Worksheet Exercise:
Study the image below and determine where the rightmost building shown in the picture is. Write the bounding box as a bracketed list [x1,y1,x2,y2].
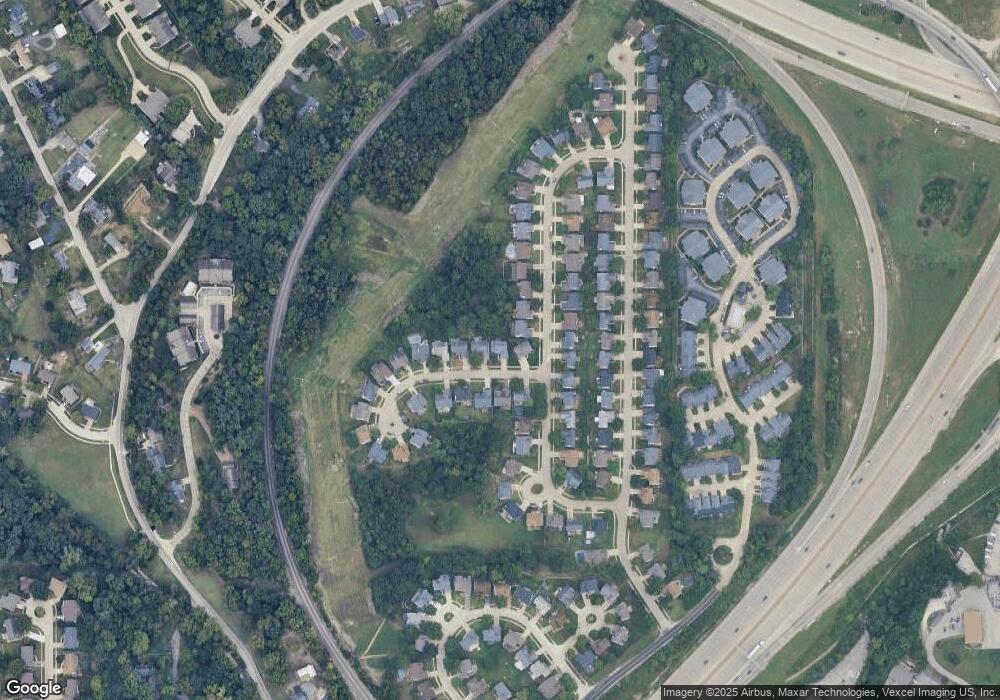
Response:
[964,611,983,643]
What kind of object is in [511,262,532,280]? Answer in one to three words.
house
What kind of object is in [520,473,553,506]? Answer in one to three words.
roundabout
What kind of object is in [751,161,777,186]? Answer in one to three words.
building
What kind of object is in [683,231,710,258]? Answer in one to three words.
building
